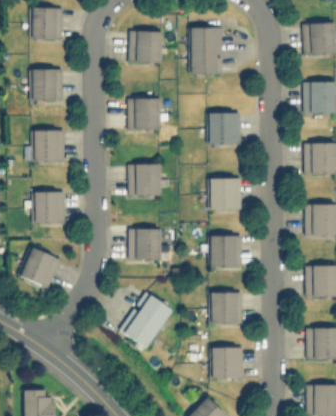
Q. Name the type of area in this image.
residential area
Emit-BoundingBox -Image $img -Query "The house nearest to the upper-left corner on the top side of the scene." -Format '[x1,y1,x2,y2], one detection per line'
[31,7,62,40]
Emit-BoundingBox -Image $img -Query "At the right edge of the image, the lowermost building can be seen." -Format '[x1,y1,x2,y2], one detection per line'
[306,384,336,416]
